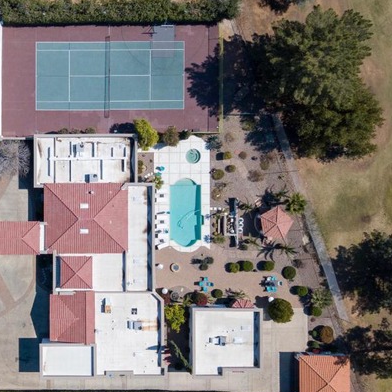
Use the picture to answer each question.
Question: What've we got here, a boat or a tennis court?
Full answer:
I can see a tennis court in this picture.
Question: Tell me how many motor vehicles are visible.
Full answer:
Not a single motor vehicle can be seen.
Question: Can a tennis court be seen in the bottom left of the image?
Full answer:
No, there's no tennis court to be seen in the bottom left of the image.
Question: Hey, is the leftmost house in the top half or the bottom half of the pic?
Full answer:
You can find the leftmost house in the bottom half.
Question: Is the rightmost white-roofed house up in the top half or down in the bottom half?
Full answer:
The rightmost white-roofed house is in the bottom half of the image.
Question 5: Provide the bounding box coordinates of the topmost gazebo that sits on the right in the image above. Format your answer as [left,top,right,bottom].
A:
[254,205,295,246]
